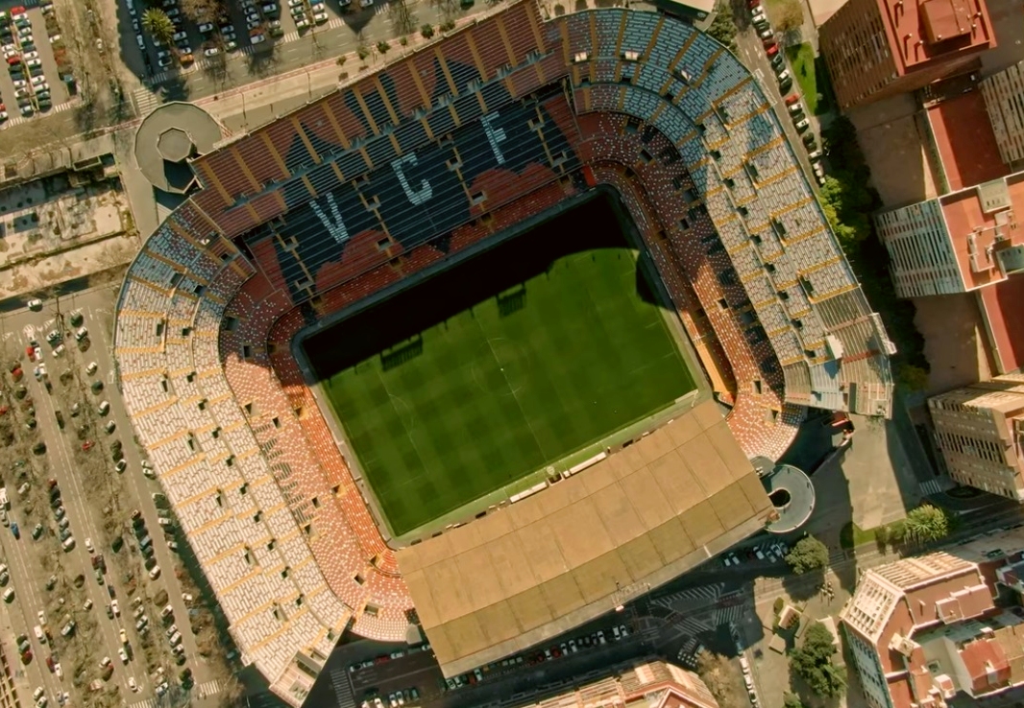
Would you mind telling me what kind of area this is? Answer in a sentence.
It's a sports ground.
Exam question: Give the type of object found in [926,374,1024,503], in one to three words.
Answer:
building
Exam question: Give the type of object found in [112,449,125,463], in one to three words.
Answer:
vehicle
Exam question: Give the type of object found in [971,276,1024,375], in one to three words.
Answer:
building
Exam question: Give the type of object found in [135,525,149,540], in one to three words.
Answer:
car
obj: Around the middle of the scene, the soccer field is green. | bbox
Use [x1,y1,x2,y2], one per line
[301,192,699,540]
